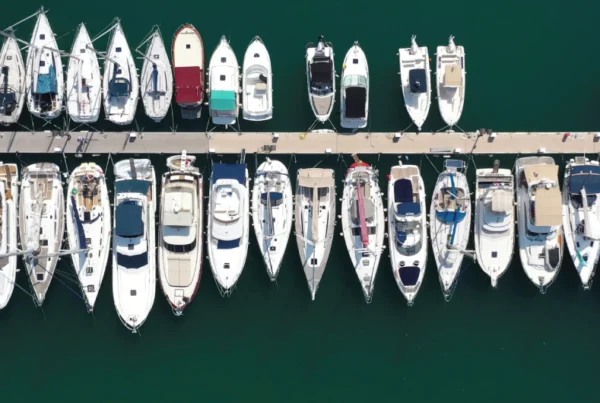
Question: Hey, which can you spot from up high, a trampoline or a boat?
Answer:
boat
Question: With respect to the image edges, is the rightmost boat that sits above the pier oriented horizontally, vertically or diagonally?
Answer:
vertically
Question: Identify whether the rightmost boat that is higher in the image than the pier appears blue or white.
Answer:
white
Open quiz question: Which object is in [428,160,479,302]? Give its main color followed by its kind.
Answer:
white boat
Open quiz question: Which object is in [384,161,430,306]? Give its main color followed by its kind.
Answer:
white boat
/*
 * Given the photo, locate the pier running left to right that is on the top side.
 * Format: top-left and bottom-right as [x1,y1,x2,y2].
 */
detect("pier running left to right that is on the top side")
[0,132,600,153]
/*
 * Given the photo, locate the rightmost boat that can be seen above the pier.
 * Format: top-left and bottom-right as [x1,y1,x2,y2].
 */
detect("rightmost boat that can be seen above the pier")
[434,34,467,127]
